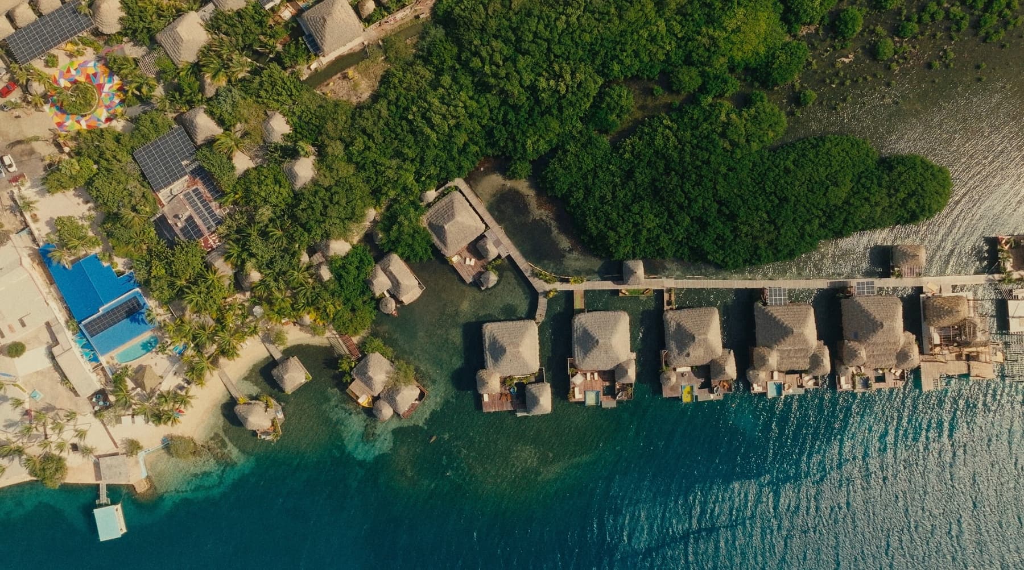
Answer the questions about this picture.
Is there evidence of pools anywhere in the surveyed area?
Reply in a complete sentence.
Yes, there is a pool in the image.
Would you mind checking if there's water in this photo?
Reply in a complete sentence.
Yes, water shows up in the scene.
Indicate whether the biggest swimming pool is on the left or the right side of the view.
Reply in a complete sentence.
You can find the biggest swimming pool on the left side of the picture.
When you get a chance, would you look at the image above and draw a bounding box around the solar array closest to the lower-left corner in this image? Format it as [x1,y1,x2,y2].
[83,296,143,339]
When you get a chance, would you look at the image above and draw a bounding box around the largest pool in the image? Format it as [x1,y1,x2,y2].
[113,332,160,365]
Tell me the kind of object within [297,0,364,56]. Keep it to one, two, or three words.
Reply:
house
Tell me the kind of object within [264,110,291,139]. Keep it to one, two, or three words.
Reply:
house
